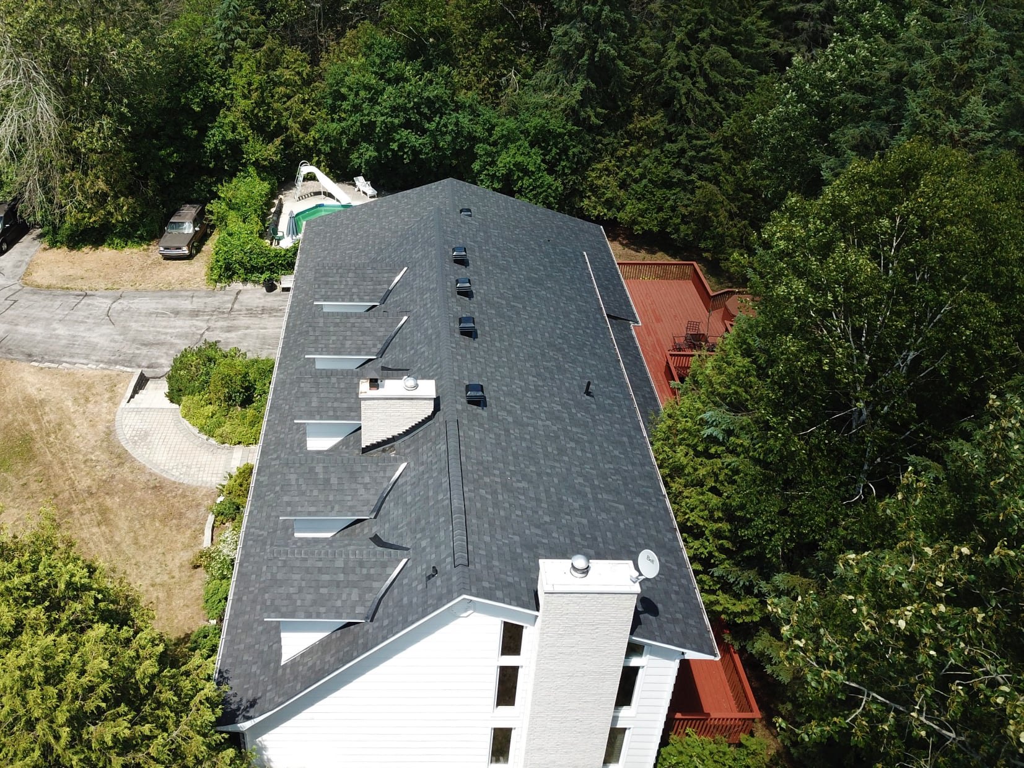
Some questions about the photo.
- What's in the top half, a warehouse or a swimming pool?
swimming pool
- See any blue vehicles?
No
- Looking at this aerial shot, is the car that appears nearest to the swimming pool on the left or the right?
left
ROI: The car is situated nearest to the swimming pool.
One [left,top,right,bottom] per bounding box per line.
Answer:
[157,193,213,253]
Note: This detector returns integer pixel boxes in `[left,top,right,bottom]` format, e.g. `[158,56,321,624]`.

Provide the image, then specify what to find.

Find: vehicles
[0,189,53,256]
[157,193,213,253]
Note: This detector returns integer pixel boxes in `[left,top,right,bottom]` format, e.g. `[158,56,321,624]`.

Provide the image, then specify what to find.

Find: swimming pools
[287,204,368,253]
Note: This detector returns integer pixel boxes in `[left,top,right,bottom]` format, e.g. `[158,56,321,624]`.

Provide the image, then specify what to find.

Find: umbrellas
[285,207,297,234]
